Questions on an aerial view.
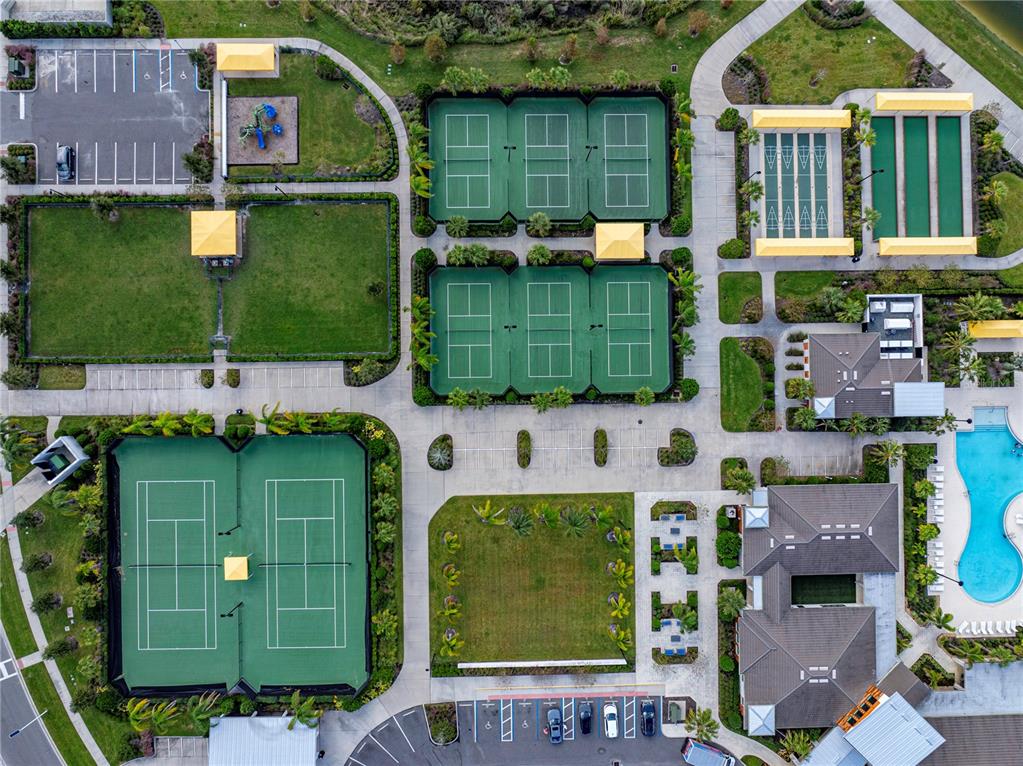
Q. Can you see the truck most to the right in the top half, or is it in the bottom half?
bottom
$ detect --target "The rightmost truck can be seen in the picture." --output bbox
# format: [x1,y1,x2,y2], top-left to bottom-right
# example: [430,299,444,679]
[674,728,733,766]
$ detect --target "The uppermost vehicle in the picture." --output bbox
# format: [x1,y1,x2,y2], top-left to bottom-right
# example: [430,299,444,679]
[55,143,74,178]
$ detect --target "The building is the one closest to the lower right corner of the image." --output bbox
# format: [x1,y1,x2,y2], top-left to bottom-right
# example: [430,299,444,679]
[733,483,1023,766]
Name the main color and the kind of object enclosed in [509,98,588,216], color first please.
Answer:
green sports court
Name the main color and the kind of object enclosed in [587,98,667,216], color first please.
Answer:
green sports court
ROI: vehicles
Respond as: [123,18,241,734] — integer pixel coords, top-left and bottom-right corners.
[603,700,619,736]
[55,143,74,178]
[674,728,733,766]
[577,700,593,733]
[540,705,567,741]
[639,697,656,735]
